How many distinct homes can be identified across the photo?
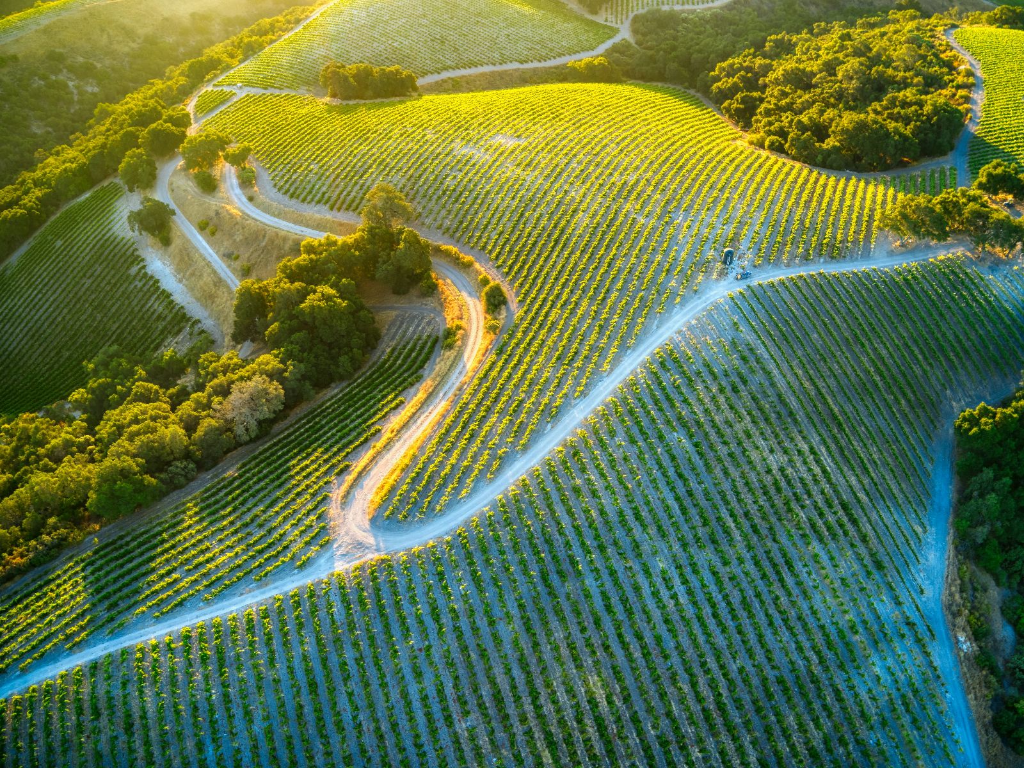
0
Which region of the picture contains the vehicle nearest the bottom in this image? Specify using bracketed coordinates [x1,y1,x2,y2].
[737,268,752,280]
